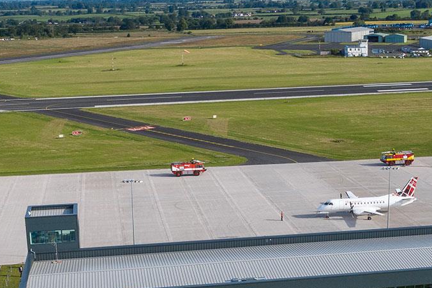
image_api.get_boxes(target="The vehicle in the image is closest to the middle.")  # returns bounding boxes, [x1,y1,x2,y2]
[172,160,205,176]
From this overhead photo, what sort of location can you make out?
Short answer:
airport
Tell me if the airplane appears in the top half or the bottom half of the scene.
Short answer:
bottom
